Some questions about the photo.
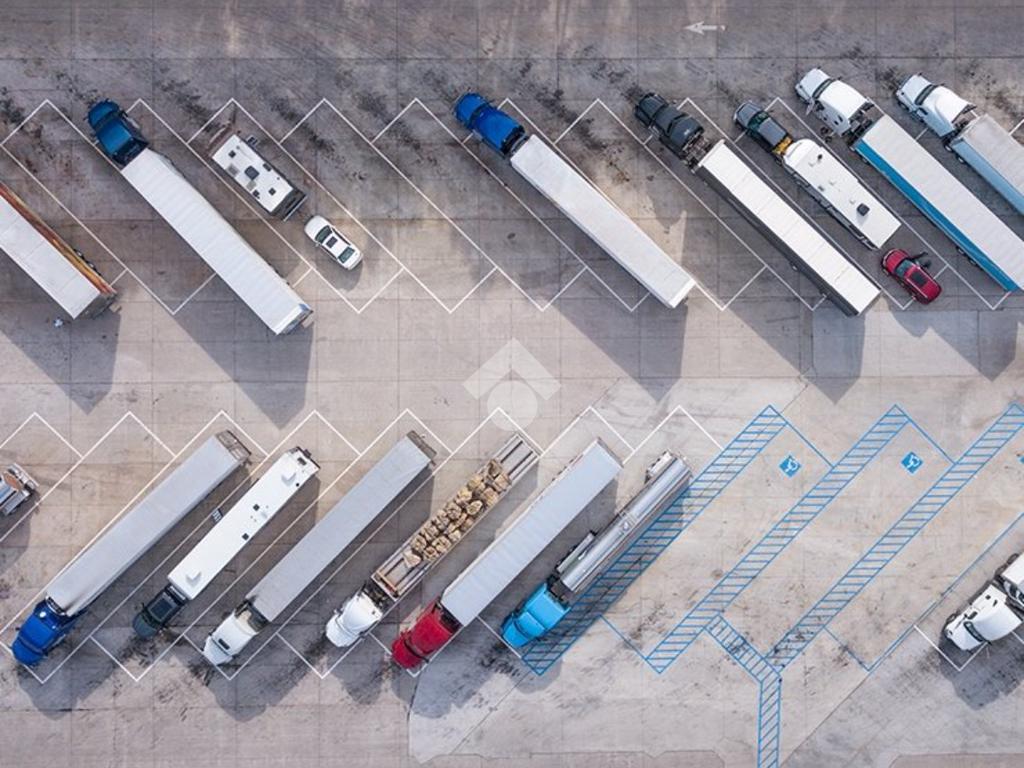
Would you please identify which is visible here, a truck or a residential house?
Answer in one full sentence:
Looking from above, you can make out a truck.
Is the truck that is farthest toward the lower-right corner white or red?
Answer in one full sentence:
The truck that is farthest toward the lower-right corner looks white in the image.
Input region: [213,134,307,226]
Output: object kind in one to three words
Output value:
camper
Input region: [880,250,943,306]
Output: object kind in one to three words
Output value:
car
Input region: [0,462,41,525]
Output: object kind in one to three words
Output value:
truck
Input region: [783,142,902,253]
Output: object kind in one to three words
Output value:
vehicle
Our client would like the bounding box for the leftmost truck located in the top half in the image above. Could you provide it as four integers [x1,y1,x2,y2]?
[0,183,115,320]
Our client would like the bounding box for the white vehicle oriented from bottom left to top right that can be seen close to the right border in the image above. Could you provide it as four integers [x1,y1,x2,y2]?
[944,553,1024,650]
